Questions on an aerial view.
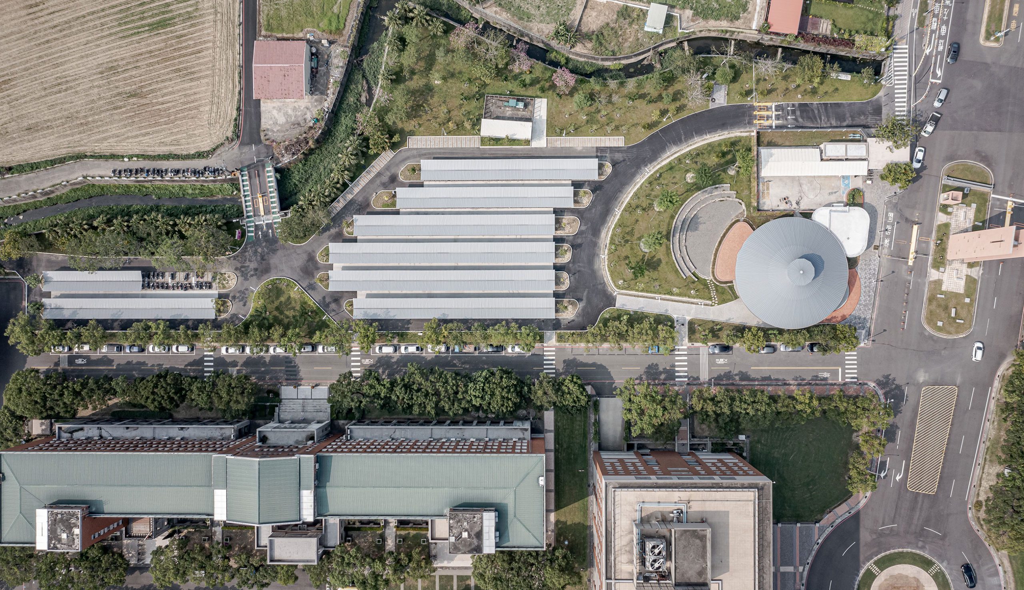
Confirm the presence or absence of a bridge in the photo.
Yes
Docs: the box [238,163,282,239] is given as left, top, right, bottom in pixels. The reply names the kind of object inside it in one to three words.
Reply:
bridge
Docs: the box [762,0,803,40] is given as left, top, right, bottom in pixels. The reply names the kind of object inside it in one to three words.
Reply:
house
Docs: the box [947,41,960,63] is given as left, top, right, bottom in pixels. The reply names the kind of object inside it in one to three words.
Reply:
vehicle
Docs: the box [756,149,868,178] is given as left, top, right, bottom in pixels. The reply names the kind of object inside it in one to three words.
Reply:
shed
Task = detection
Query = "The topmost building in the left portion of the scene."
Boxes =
[252,40,314,104]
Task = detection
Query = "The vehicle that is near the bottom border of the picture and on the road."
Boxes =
[962,564,976,589]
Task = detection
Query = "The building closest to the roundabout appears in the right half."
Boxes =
[589,451,784,590]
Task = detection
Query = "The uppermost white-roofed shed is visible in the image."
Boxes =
[643,2,668,37]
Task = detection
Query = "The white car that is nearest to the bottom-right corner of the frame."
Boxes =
[972,342,984,362]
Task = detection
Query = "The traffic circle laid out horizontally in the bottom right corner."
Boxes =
[855,549,953,590]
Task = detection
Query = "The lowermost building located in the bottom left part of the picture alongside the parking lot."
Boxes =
[0,417,548,564]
